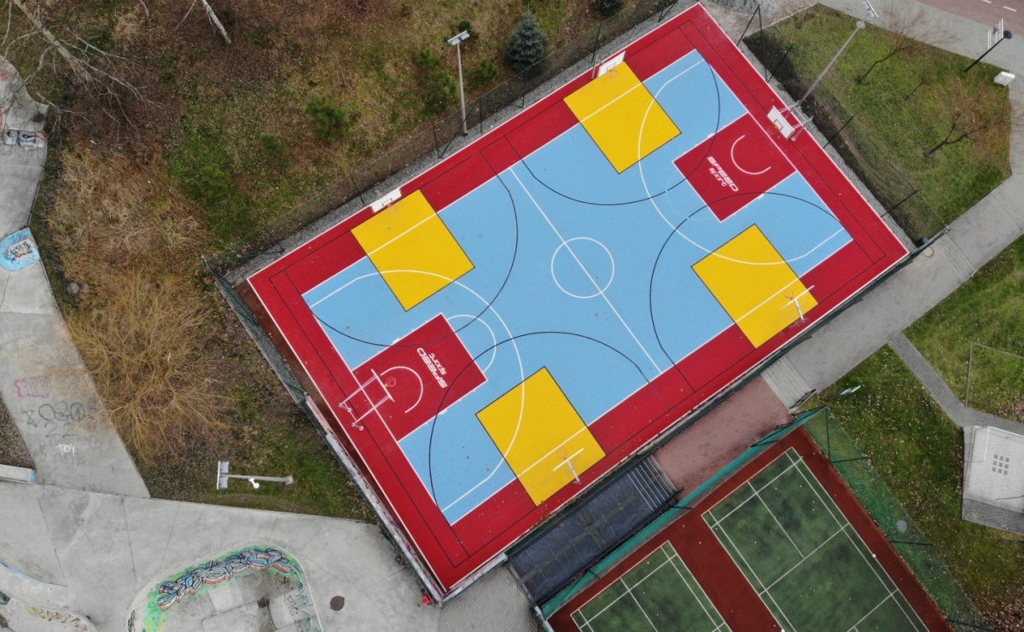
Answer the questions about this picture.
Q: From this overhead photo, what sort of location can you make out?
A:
sports ground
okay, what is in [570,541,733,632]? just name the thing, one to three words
sports court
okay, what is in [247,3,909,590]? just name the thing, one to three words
basketball court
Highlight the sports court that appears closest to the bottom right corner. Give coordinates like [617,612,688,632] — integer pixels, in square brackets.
[701,447,933,632]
